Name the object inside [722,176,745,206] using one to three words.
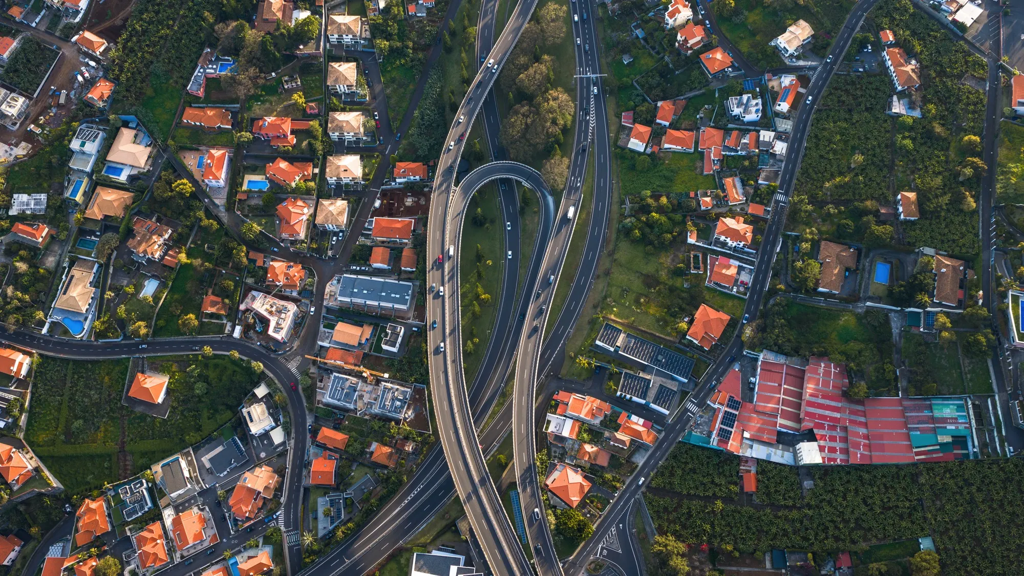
house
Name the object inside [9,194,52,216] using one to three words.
shed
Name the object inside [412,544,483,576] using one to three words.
building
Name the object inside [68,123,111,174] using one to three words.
house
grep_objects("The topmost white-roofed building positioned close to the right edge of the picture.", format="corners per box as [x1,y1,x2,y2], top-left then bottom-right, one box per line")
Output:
[929,0,983,29]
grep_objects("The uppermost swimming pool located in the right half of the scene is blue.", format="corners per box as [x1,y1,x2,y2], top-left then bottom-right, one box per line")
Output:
[874,261,892,285]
